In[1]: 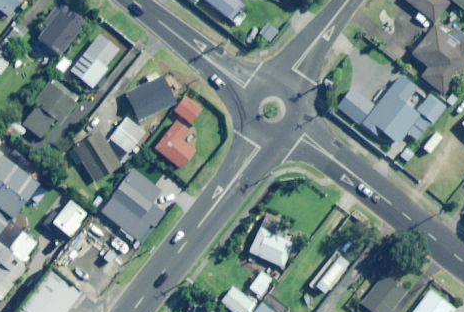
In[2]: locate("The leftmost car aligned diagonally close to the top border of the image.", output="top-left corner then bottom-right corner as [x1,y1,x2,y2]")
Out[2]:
[128,4,144,18]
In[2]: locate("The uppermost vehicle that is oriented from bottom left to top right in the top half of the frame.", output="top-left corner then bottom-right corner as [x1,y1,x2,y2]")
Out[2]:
[246,26,259,42]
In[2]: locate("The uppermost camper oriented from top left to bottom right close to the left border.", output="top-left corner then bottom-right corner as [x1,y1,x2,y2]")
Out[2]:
[10,122,26,136]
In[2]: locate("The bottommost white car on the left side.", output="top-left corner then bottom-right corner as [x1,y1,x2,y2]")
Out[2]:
[170,230,184,245]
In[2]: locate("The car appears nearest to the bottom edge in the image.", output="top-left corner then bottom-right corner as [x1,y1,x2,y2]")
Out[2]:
[153,272,168,288]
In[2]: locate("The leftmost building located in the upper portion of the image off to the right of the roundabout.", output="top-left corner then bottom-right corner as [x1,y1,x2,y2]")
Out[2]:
[338,88,374,124]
